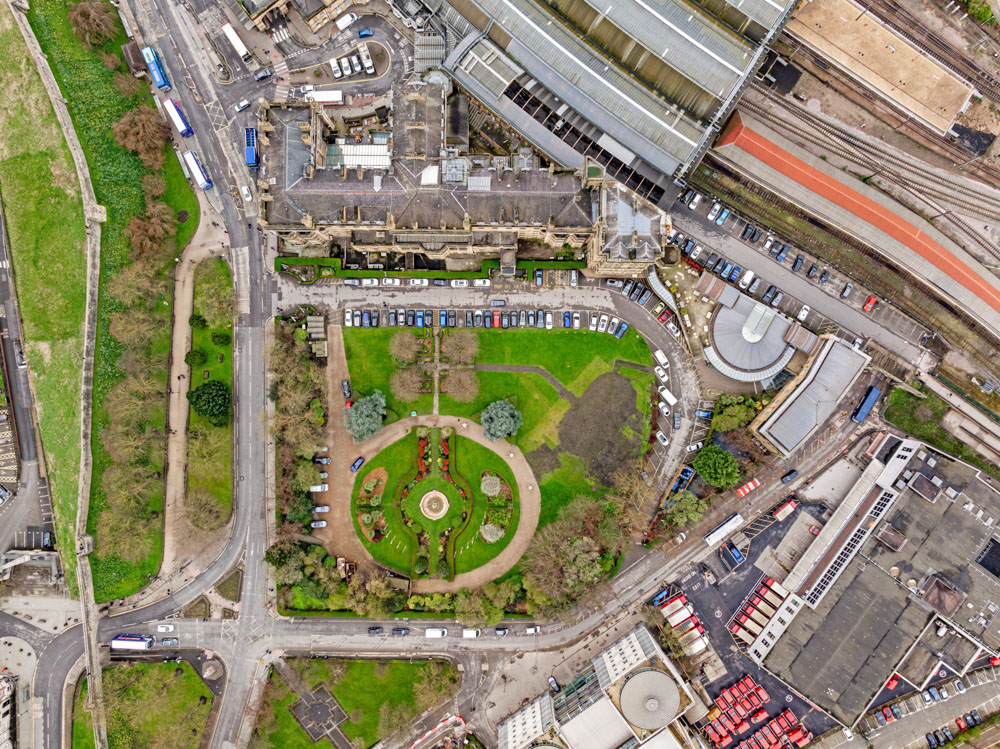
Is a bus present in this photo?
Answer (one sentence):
Yes, this view includes a bus.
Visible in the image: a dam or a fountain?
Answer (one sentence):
Of the two, only a fountain appears.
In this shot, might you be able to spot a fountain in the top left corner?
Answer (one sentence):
No, no fountain appears in the top left corner.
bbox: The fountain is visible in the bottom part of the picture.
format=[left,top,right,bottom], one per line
[418,490,449,520]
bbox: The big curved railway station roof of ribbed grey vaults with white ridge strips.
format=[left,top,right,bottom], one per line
[440,0,812,213]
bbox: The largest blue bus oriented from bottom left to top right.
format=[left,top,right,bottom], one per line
[849,385,883,423]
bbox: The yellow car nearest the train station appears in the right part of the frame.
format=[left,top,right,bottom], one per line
[651,301,666,315]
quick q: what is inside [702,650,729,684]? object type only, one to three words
shed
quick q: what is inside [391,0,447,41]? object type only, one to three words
building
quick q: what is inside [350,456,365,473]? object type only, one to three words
car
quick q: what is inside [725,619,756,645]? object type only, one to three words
truck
